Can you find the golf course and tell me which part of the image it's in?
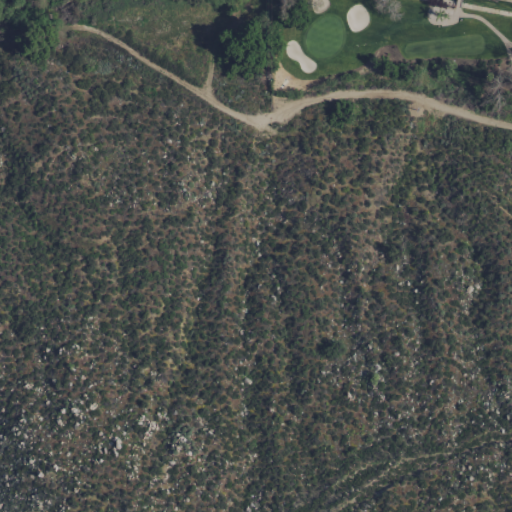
top right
